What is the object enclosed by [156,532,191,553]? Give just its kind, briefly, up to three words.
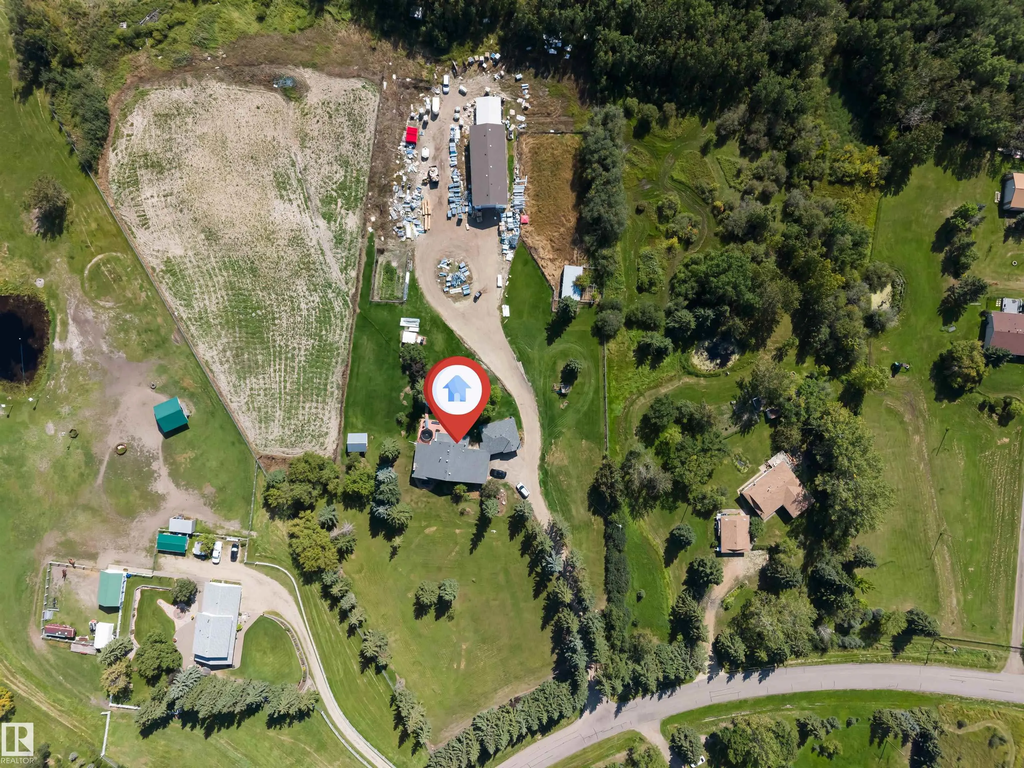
shed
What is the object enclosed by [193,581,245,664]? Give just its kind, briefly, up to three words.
house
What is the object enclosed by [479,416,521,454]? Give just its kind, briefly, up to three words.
building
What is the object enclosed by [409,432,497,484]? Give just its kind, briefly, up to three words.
house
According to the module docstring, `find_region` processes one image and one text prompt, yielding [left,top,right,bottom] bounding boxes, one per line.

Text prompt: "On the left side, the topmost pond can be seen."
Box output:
[0,295,51,384]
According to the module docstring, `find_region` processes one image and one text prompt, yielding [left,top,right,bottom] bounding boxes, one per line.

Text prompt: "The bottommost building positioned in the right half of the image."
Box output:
[719,515,750,553]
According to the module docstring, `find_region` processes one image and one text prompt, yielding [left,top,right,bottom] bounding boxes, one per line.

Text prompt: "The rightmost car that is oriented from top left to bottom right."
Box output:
[517,482,530,498]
